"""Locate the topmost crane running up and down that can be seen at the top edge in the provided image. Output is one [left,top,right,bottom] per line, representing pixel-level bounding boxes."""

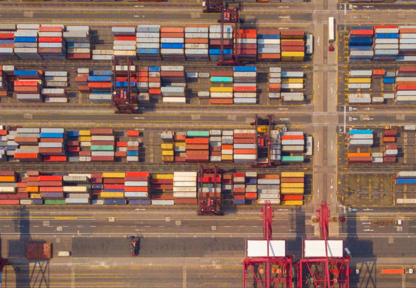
[218,9,244,66]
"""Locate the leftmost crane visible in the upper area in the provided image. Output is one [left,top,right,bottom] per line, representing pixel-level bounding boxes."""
[110,57,141,113]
